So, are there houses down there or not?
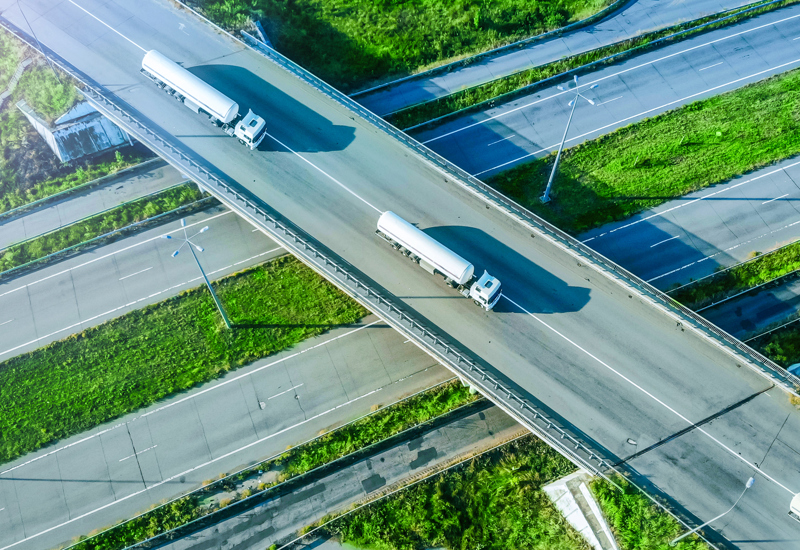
No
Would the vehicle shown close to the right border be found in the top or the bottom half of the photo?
bottom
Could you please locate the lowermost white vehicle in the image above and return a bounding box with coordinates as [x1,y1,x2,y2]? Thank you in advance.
[780,486,800,519]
